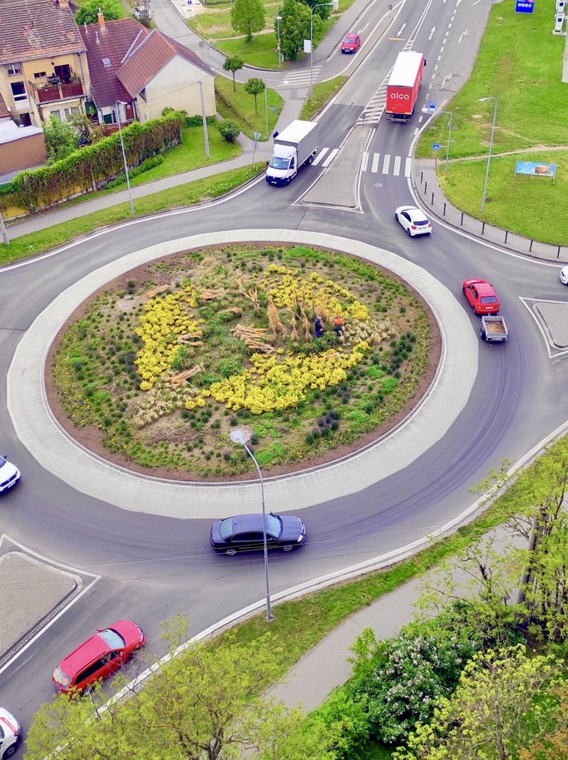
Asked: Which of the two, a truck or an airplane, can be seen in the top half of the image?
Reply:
truck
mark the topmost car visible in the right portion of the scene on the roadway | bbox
[342,30,360,52]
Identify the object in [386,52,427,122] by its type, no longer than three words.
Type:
truck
